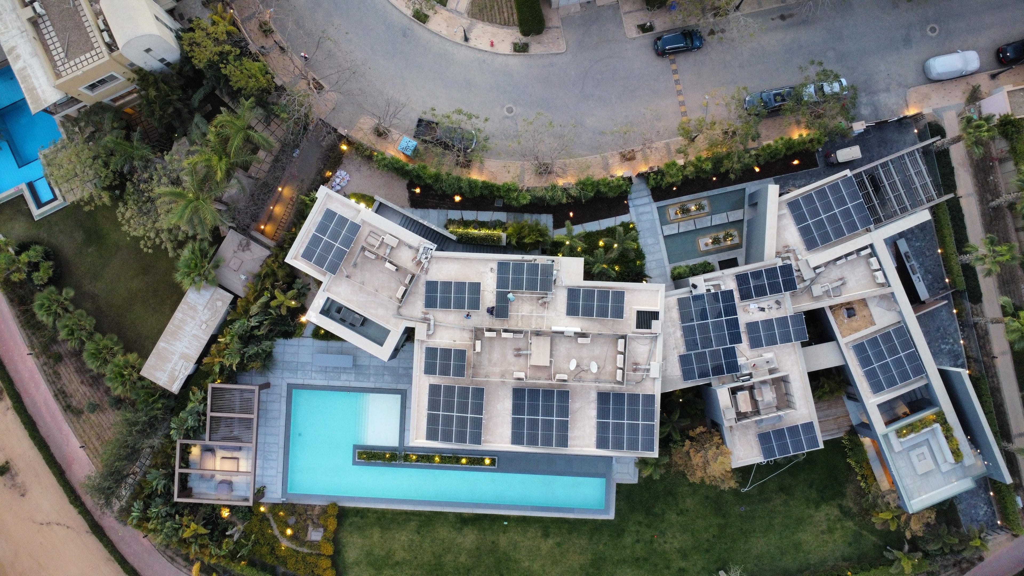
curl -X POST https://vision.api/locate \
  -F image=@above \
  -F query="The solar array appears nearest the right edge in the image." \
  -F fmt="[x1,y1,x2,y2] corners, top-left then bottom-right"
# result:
[852,326,922,395]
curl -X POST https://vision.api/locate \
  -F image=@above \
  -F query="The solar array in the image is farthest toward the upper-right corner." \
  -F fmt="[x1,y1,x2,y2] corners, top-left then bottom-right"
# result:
[787,176,874,252]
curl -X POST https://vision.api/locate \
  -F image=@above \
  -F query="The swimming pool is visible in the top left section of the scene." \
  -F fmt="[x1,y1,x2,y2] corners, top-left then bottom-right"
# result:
[0,68,73,221]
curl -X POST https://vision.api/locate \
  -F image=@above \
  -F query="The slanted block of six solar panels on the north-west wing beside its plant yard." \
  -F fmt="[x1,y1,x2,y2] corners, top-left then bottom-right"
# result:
[301,208,362,275]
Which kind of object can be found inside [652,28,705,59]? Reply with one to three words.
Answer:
car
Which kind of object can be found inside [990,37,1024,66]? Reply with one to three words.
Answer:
car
